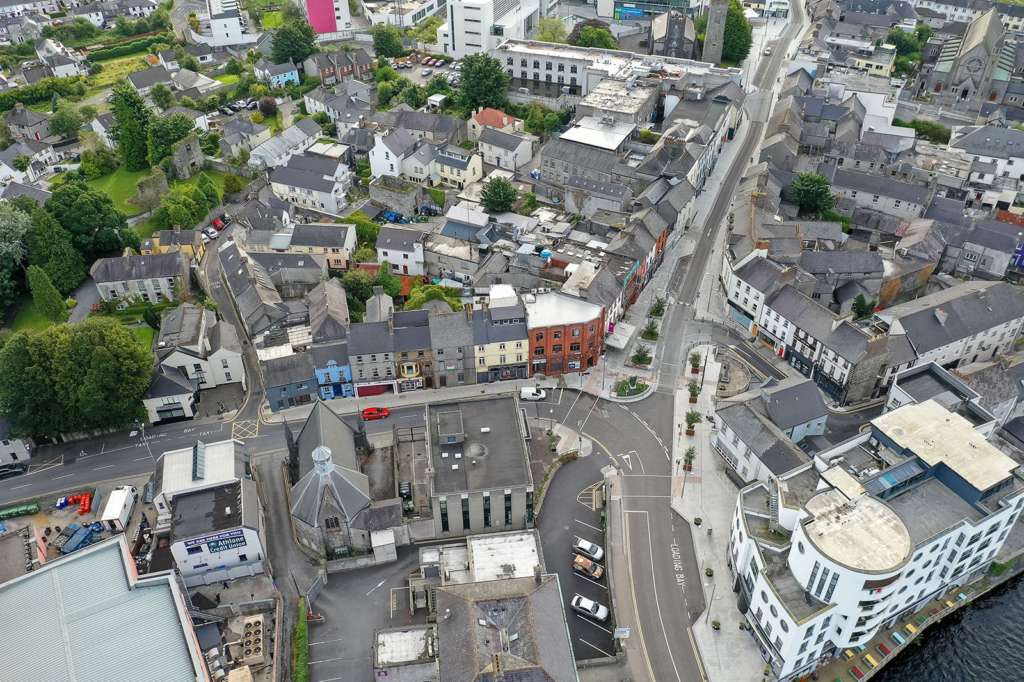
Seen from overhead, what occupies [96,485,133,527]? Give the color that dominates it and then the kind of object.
white truck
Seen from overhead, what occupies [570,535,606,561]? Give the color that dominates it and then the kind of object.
white car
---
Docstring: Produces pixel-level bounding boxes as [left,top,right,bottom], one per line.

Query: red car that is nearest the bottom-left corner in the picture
[361,405,389,420]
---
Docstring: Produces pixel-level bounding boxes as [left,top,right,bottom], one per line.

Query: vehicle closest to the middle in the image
[520,385,546,400]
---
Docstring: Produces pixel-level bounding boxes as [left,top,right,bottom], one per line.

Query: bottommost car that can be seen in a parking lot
[569,592,610,621]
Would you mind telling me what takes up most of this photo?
buildings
